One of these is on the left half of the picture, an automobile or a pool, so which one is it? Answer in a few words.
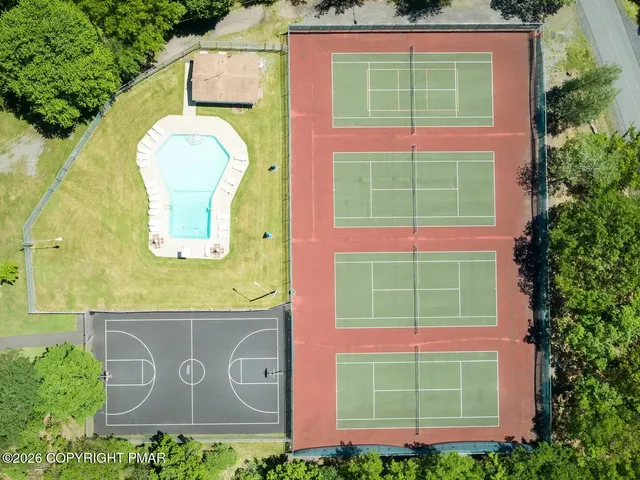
pool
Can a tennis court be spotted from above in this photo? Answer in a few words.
Yes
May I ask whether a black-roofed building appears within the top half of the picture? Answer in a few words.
No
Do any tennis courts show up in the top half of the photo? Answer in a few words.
Yes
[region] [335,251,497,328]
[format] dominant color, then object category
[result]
green tennis court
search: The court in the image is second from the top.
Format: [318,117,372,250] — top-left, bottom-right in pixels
[334,151,496,228]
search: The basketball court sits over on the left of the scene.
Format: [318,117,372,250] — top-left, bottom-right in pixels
[92,306,292,436]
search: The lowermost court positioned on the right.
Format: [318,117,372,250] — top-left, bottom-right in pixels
[336,351,499,429]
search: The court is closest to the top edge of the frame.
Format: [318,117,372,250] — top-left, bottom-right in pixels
[332,52,494,128]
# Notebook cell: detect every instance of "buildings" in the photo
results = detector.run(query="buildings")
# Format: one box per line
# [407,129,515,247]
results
[191,52,258,105]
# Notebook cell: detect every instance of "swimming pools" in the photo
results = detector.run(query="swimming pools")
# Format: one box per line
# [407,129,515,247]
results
[137,115,249,258]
